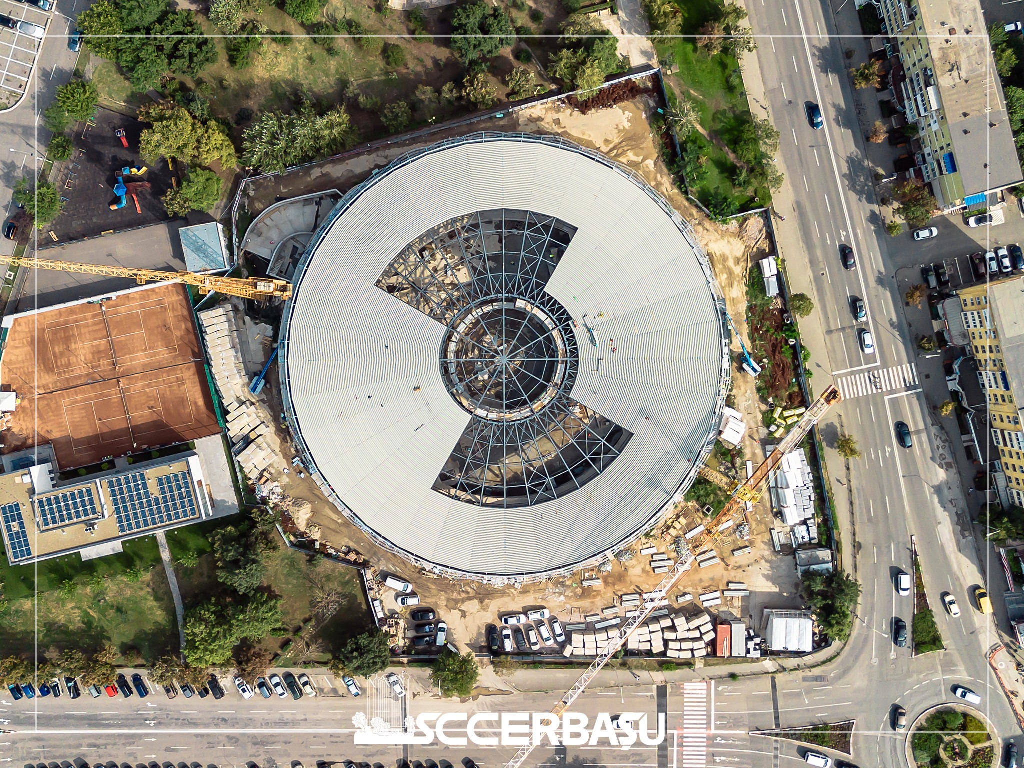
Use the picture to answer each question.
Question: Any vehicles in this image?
Yes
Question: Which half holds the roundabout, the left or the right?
right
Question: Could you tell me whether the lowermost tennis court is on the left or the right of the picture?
left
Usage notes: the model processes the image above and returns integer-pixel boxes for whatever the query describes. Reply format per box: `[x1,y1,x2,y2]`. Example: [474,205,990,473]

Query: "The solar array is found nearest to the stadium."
[107,471,196,534]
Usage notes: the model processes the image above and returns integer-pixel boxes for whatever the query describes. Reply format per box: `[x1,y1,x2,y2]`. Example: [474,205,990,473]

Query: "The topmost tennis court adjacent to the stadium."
[0,286,199,400]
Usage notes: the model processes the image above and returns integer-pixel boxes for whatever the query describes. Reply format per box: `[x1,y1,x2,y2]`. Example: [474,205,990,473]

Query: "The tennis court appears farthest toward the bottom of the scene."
[0,361,221,464]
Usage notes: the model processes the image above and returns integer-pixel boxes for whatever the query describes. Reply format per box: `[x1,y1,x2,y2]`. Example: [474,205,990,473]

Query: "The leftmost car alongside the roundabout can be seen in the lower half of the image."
[894,707,908,732]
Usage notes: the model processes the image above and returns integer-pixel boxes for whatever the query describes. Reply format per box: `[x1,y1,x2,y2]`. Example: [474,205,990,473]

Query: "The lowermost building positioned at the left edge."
[0,453,228,568]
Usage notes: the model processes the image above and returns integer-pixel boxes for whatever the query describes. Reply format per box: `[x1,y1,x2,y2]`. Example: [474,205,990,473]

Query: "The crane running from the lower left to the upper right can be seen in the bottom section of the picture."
[500,382,846,768]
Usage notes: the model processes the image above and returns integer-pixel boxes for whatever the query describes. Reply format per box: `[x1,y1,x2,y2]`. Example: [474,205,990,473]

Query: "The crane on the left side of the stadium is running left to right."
[0,256,306,327]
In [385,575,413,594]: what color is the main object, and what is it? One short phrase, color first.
white vehicle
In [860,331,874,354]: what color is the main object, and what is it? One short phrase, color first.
white car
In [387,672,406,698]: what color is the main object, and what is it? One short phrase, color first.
white car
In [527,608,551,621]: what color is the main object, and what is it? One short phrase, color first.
white vehicle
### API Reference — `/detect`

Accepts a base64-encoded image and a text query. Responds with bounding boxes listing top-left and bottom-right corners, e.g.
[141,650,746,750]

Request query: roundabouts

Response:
[906,703,1002,768]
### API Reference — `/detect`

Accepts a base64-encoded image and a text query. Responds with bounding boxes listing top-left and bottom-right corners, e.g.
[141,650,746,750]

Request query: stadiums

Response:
[277,131,732,586]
